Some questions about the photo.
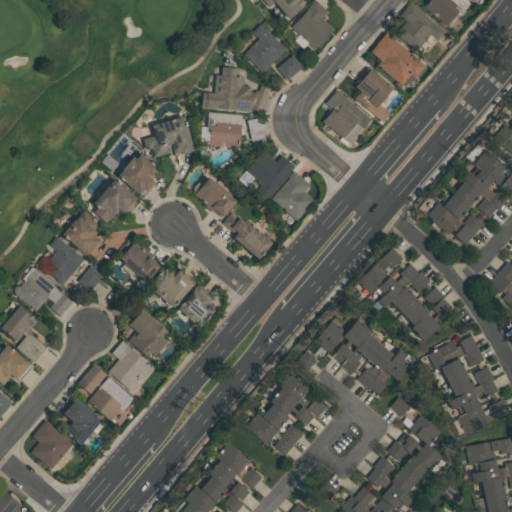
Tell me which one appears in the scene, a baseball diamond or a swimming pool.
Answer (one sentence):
The one in the frame is a swimming pool.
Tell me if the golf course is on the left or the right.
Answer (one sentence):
The golf course is on the left side of the image.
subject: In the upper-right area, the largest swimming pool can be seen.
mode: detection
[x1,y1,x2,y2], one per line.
[386,93,404,112]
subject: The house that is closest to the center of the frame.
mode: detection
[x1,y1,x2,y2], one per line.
[222,212,274,259]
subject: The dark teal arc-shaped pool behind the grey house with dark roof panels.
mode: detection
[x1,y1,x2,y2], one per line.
[154,103,182,120]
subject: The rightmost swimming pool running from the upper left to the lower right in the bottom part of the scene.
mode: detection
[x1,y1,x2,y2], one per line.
[171,318,190,335]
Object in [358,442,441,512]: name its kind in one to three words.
house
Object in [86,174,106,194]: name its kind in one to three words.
swimming pool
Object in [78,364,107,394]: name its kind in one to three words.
building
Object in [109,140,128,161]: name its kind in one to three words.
swimming pool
